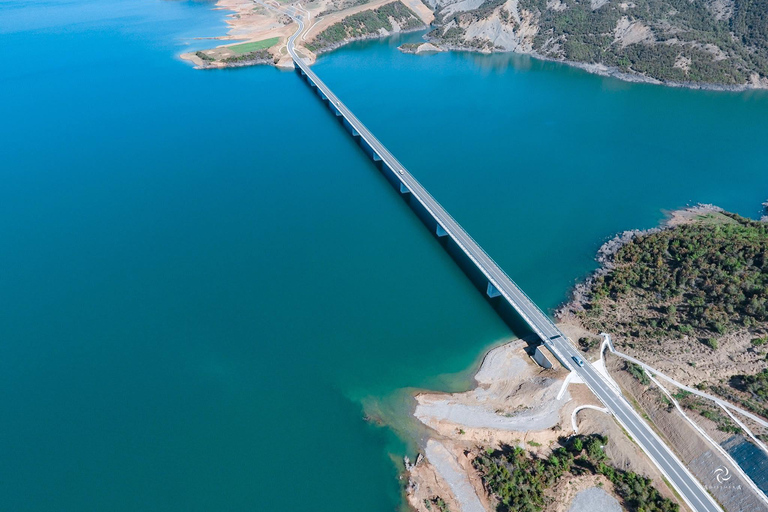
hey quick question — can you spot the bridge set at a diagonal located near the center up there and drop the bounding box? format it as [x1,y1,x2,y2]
[292,57,596,377]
